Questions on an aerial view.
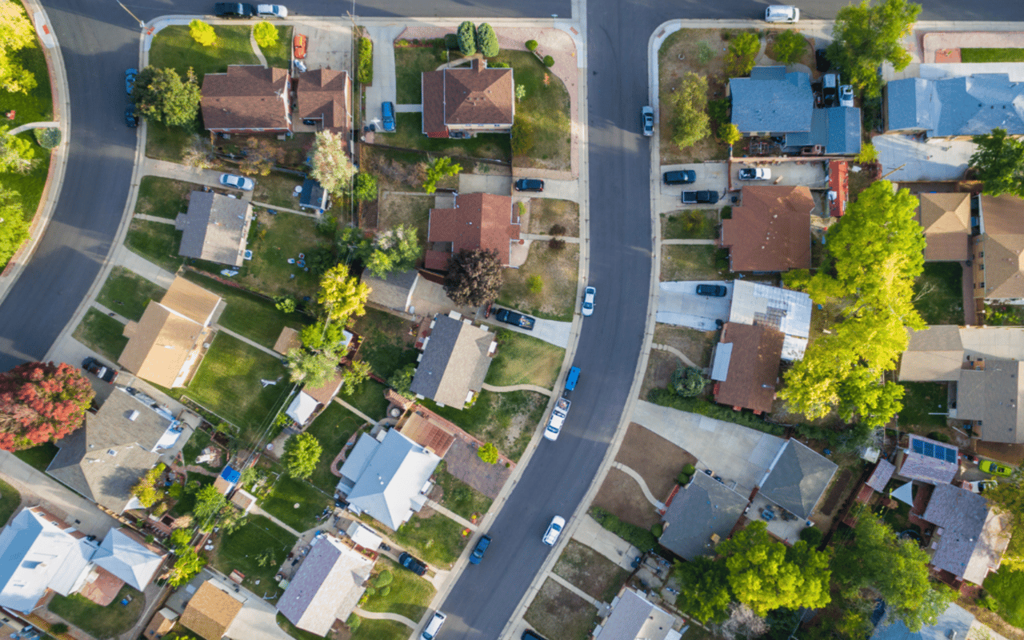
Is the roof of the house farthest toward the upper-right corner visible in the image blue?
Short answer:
Yes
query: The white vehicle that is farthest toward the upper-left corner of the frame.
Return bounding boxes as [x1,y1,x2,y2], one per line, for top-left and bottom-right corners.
[256,2,288,19]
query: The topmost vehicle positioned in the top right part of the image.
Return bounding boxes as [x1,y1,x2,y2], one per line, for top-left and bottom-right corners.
[764,5,799,21]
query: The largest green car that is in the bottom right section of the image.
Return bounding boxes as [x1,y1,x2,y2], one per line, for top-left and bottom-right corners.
[978,459,1013,475]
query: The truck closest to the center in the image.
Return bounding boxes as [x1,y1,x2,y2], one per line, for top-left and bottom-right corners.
[494,307,536,331]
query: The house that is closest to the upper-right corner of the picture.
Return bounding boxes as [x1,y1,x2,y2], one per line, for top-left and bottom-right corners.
[880,70,1024,139]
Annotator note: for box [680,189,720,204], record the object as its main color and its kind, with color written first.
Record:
black vehicle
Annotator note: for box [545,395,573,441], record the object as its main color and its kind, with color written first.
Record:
white truck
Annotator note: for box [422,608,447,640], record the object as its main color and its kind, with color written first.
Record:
white vehicle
